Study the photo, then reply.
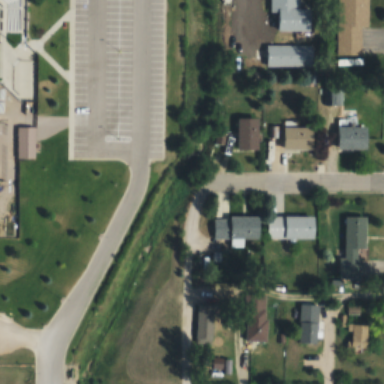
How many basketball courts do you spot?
0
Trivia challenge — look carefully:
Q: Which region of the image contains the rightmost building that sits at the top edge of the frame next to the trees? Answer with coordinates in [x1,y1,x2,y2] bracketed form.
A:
[338,0,370,56]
